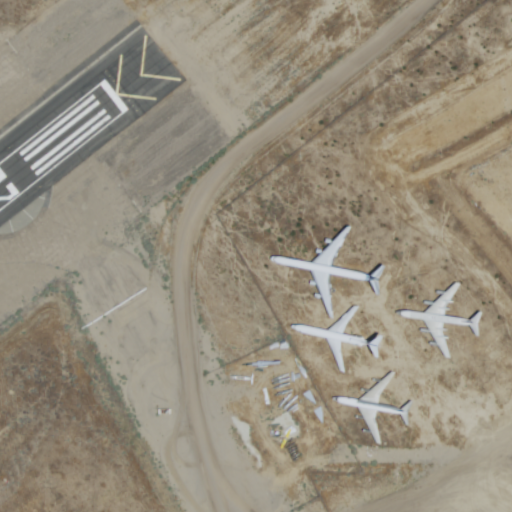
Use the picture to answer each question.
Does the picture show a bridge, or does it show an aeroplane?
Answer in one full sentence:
There is an aeroplane in the scene.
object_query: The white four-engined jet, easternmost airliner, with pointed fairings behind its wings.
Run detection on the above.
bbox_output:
[398,282,482,358]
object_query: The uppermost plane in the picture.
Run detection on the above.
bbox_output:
[271,226,385,318]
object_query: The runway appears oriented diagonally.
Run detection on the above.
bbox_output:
[0,20,186,234]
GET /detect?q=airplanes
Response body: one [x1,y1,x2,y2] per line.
[333,373,414,446]
[271,226,385,318]
[292,306,383,373]
[398,282,482,358]
[242,358,281,368]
